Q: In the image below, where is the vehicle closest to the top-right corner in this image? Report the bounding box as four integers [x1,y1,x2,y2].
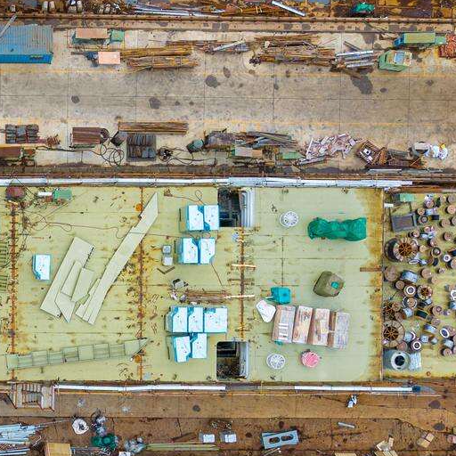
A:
[388,29,435,51]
